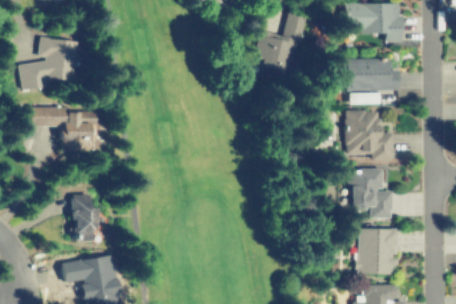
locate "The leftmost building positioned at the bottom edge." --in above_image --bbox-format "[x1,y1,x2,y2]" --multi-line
[61,256,125,304]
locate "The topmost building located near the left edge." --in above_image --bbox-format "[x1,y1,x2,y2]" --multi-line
[19,37,75,92]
